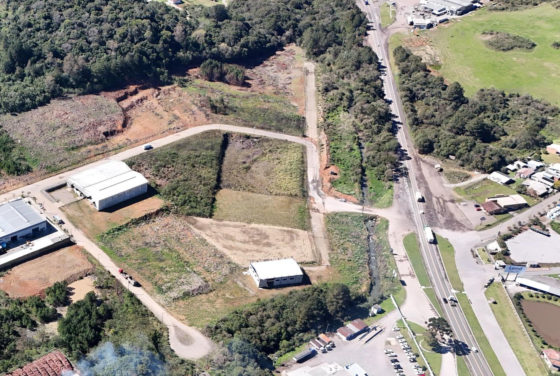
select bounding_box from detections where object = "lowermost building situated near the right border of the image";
[541,347,560,369]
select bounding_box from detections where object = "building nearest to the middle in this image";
[249,257,303,288]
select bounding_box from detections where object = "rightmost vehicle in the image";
[530,224,553,237]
